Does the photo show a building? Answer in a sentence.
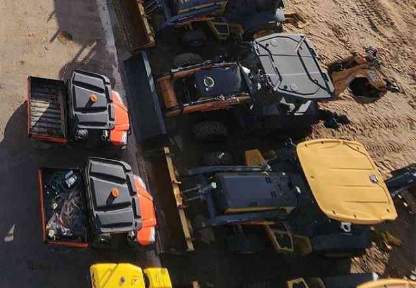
No, I can't see a single building in this photo.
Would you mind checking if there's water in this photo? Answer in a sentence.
No, water can't be seen anywhere here.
